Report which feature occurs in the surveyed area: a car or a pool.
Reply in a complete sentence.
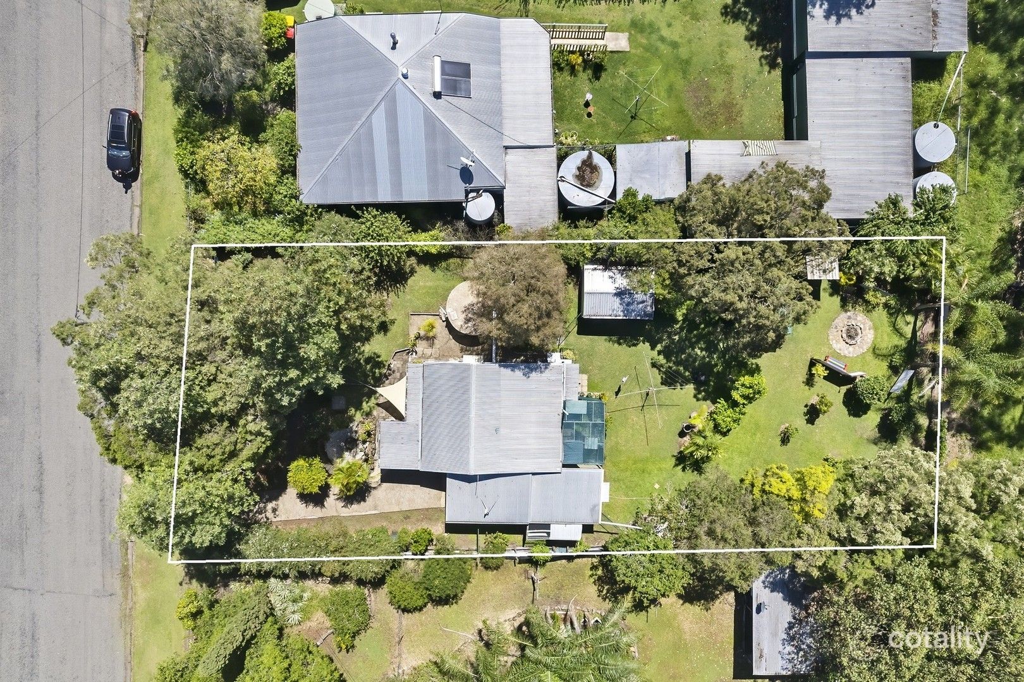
There is a car in the scene.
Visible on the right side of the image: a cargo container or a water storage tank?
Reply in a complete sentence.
It is a water storage tank that can be seen on the right side of the image.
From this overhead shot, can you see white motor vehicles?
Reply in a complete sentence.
No, no white motor vehicle can be seen from above.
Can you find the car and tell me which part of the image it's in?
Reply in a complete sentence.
The car is located in the top left region of the scene.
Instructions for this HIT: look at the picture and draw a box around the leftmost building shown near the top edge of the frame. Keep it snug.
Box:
[295,10,558,231]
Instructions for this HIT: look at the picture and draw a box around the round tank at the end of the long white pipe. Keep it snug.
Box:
[913,122,956,171]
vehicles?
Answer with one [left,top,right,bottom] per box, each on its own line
[104,108,143,175]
